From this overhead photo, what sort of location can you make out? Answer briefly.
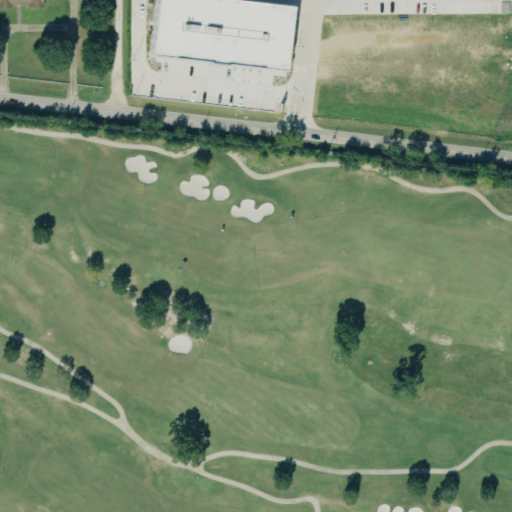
golf course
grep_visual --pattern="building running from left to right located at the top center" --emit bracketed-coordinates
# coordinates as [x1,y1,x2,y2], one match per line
[153,0,298,72]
